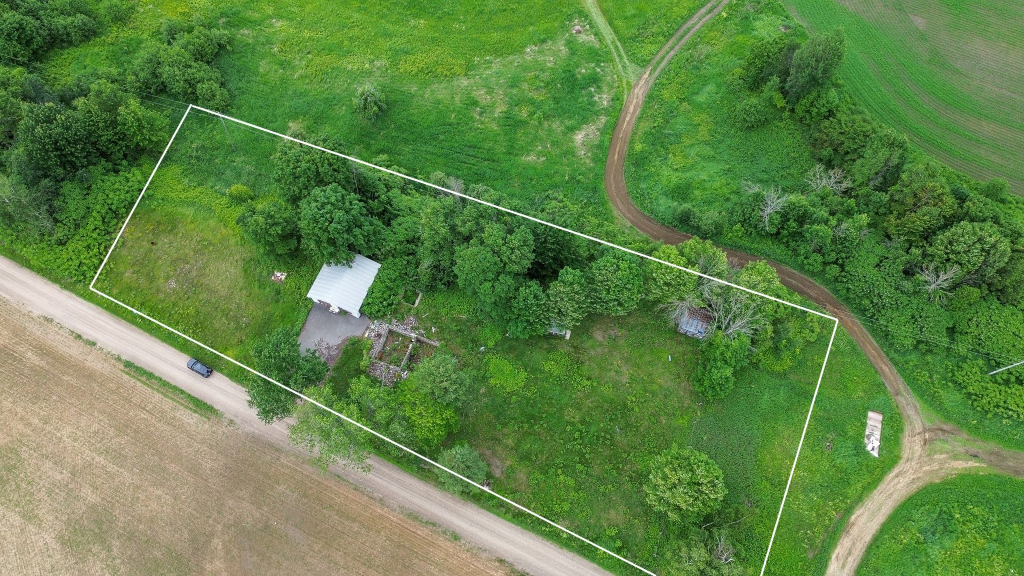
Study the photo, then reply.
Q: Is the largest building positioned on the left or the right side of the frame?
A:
left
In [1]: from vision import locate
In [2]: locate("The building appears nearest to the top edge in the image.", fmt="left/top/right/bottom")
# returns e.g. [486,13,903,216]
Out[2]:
[307,250,378,313]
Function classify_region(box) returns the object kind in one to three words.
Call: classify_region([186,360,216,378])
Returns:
car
